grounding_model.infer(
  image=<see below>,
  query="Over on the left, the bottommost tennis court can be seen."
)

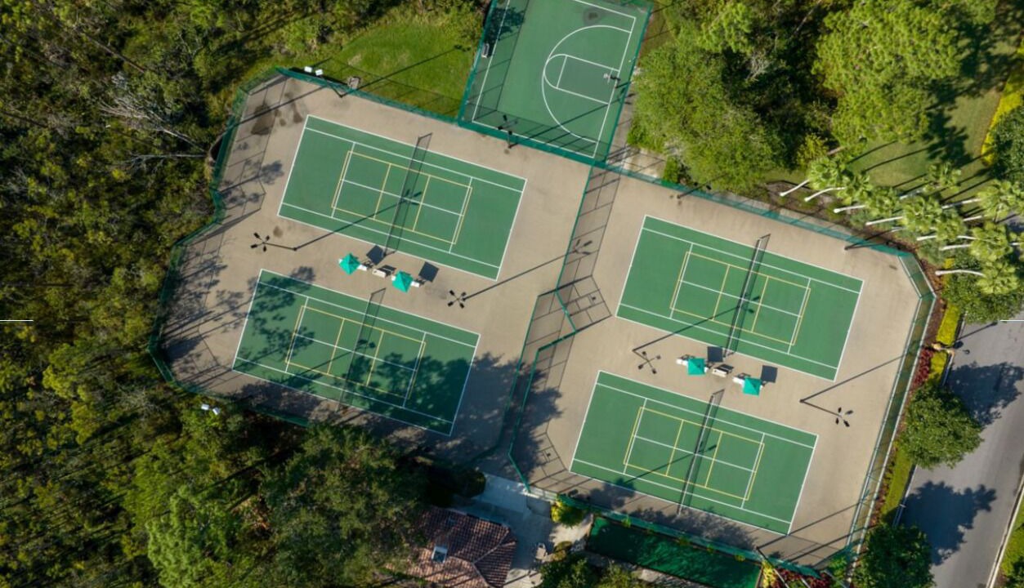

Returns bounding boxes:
[231,270,480,436]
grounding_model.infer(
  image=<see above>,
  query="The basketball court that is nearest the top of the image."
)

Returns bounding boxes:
[459,0,652,163]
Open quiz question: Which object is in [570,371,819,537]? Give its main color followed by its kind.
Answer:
green tennis court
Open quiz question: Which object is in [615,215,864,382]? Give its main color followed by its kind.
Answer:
green tennis court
